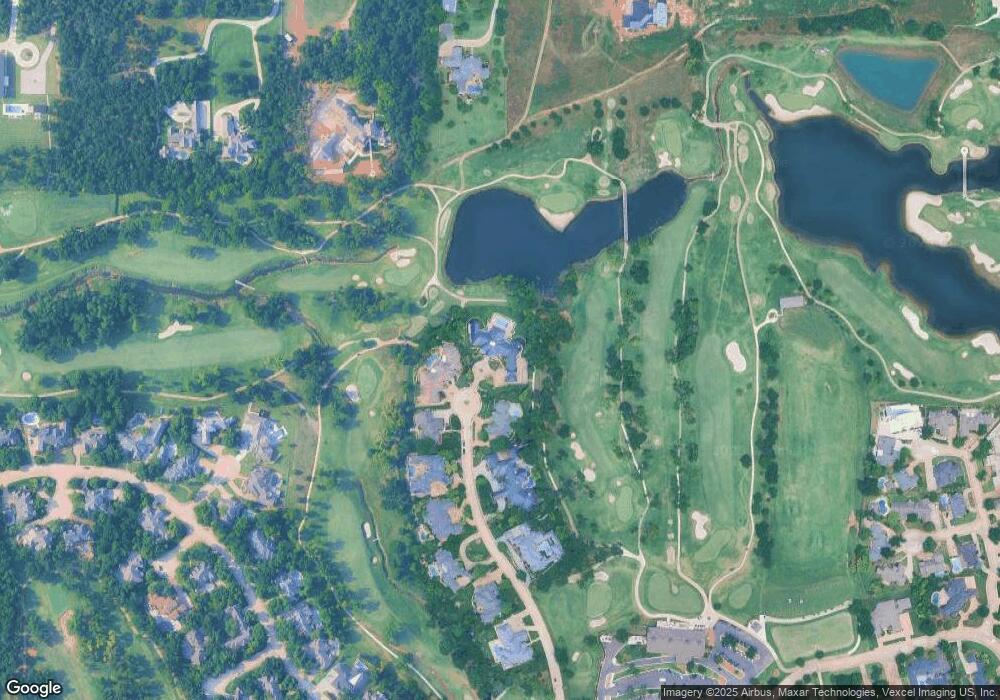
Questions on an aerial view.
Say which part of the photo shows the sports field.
bottom right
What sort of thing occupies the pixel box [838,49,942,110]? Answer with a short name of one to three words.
pond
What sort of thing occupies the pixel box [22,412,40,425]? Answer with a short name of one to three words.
swimming pool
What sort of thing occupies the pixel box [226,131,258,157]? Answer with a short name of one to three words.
house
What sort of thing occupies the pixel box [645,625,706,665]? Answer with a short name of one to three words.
building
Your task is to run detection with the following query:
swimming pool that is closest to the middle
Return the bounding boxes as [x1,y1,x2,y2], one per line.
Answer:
[493,313,512,332]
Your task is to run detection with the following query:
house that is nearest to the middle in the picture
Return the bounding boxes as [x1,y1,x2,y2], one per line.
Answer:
[469,318,526,384]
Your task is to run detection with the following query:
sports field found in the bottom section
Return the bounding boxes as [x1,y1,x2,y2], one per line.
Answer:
[766,606,860,667]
